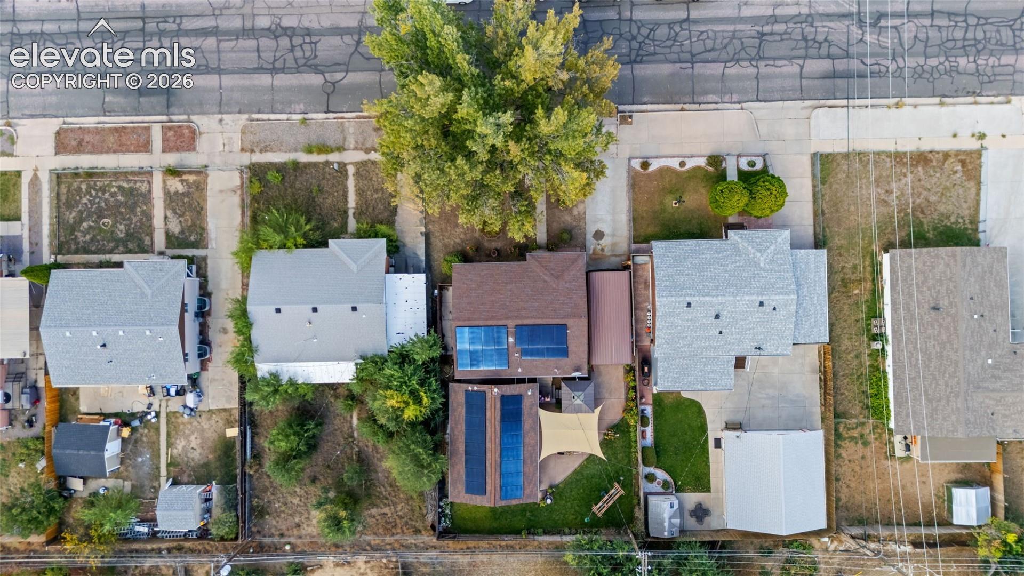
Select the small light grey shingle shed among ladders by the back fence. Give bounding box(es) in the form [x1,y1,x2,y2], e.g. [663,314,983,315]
[157,477,209,531]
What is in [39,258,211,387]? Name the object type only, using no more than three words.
house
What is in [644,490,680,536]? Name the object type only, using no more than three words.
shed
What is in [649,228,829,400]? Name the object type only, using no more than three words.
house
